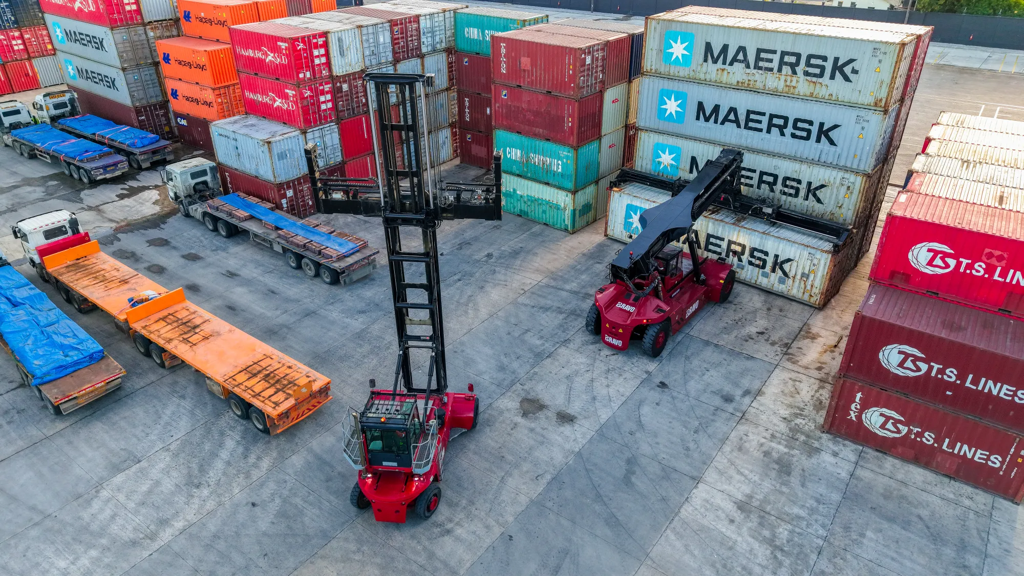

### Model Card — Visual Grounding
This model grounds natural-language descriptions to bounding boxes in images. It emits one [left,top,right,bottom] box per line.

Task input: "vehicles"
[582,148,861,360]
[307,72,508,524]
[6,207,332,441]
[8,364,131,421]
[157,160,382,286]
[0,97,133,184]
